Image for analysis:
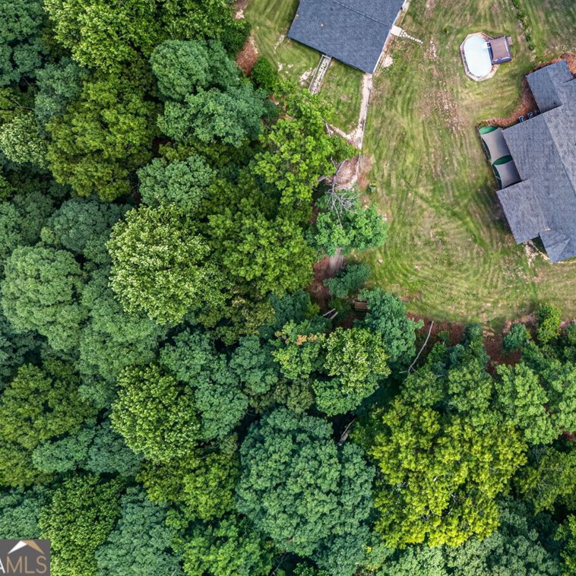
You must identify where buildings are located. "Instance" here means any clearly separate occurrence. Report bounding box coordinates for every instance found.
[286,0,404,74]
[495,58,576,265]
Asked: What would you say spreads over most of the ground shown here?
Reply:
trees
